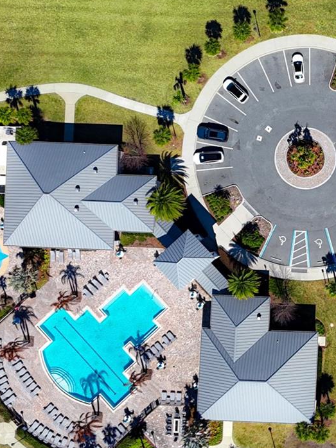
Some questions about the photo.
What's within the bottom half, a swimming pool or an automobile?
swimming pool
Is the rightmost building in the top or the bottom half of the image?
bottom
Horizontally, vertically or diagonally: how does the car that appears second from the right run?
diagonally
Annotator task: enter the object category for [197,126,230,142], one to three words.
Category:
car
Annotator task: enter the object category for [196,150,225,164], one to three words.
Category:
car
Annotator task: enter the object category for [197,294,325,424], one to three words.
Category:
building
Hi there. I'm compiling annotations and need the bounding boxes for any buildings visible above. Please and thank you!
[3,141,159,250]
[153,228,226,290]
[197,294,325,424]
